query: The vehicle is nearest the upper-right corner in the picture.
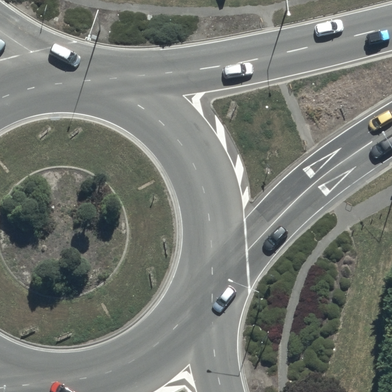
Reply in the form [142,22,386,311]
[366,30,390,44]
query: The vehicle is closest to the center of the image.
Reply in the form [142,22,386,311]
[262,226,290,254]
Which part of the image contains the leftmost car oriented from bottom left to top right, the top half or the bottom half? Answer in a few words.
bottom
